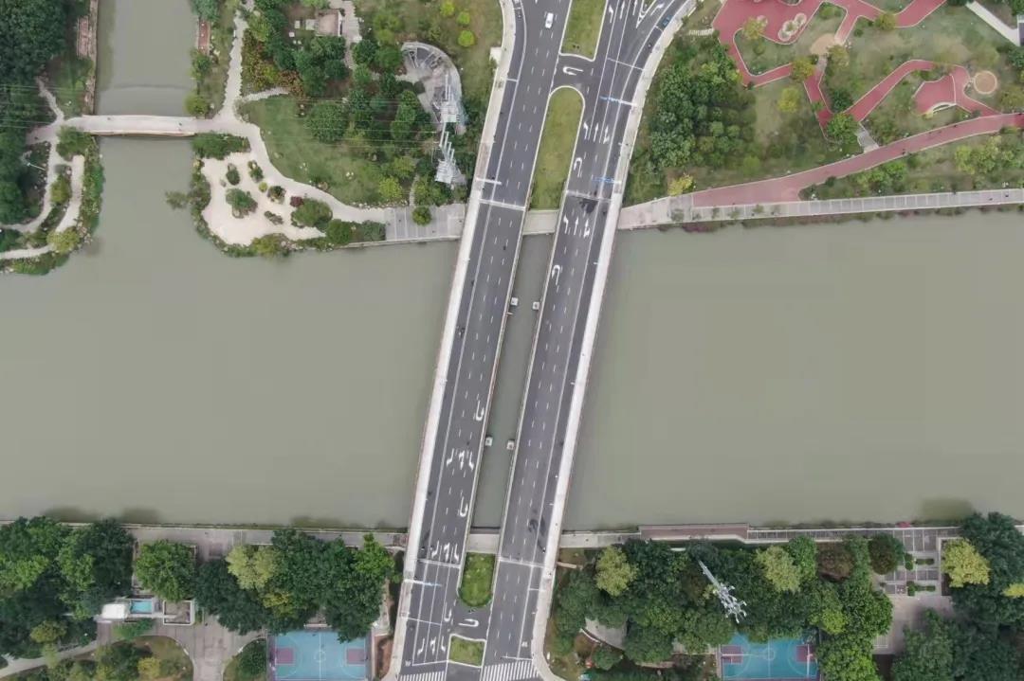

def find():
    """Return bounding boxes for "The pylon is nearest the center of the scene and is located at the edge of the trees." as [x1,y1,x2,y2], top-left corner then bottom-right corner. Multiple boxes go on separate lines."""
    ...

[435,122,470,188]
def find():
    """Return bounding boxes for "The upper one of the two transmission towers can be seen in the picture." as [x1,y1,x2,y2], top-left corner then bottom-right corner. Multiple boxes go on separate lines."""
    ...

[440,74,469,140]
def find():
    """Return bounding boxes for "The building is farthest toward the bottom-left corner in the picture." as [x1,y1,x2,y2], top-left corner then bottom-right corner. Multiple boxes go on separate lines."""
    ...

[97,599,134,623]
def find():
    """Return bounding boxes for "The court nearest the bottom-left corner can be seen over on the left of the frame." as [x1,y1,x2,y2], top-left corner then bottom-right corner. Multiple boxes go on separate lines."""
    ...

[268,626,370,681]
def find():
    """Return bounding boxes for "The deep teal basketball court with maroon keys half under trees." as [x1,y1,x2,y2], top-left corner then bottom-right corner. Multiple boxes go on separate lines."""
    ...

[720,627,822,681]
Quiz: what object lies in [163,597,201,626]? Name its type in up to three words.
building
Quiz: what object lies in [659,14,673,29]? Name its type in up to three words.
car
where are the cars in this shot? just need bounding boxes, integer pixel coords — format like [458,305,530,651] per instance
[544,11,553,27]
[659,14,673,29]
